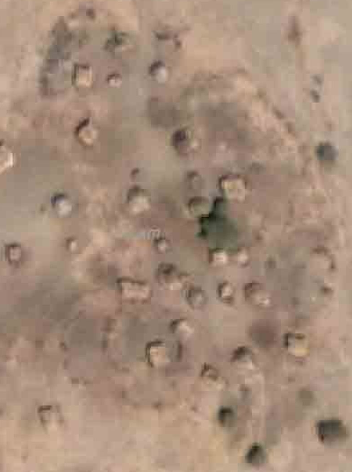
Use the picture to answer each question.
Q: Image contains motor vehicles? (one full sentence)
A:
No, there's no motor vehicle here.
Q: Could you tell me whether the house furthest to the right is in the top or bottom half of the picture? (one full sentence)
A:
Seen from above, the house furthest to the right lies in the bottom half of the view.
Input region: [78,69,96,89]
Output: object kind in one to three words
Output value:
house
